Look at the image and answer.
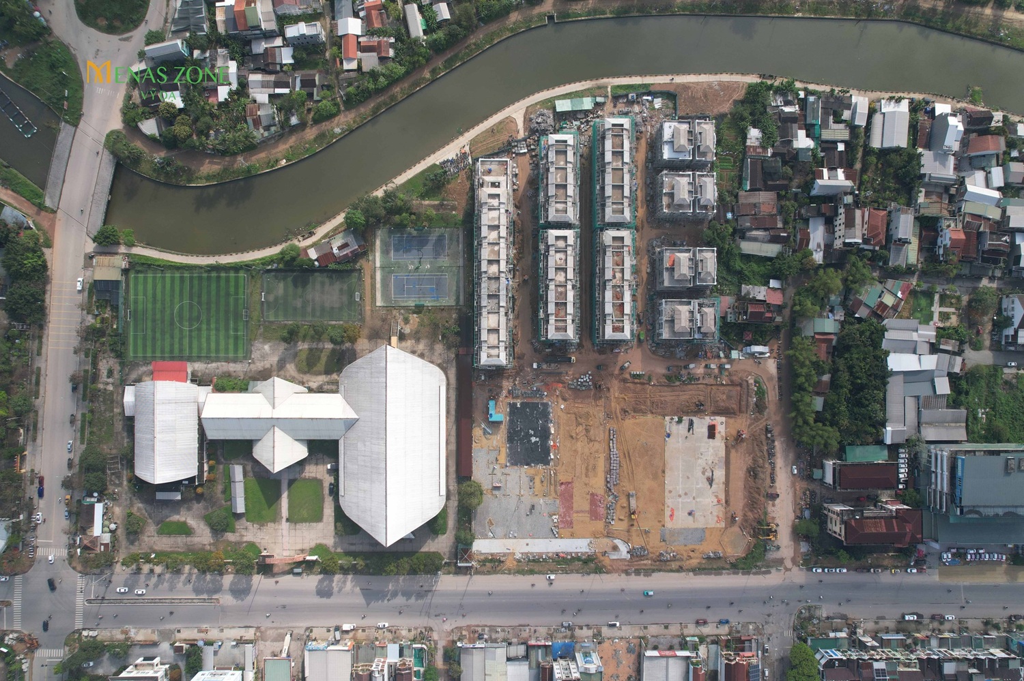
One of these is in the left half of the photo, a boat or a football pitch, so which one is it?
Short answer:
football pitch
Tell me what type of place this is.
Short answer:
residential area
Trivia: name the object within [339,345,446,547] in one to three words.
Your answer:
building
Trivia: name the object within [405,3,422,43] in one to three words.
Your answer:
house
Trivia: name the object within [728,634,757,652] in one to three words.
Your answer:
house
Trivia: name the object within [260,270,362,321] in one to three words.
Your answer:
soccer field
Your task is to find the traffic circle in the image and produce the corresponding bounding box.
[74,0,150,34]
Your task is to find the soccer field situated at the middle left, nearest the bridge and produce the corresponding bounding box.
[125,269,248,360]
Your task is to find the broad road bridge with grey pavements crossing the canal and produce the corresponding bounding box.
[43,120,119,237]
